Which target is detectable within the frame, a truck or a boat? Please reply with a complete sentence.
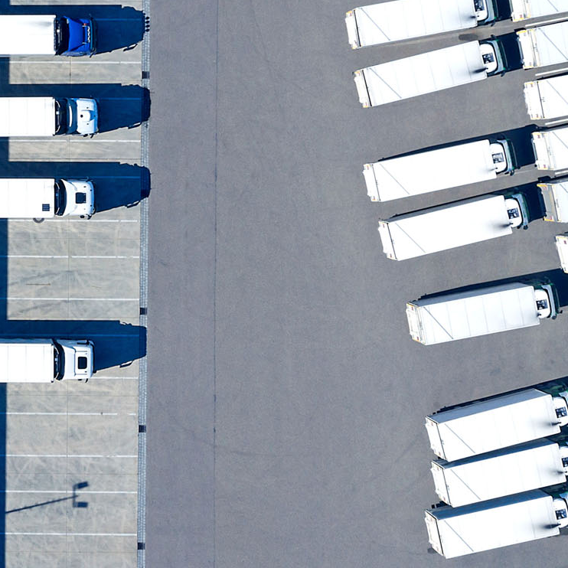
Looking from above, you can make out a truck.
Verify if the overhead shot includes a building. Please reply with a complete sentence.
No, the scene contains no building.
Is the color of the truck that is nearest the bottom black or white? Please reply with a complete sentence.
The color of the truck that is nearest the bottom is white.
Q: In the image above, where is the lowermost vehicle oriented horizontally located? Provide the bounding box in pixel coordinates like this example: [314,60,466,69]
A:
[421,481,568,558]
